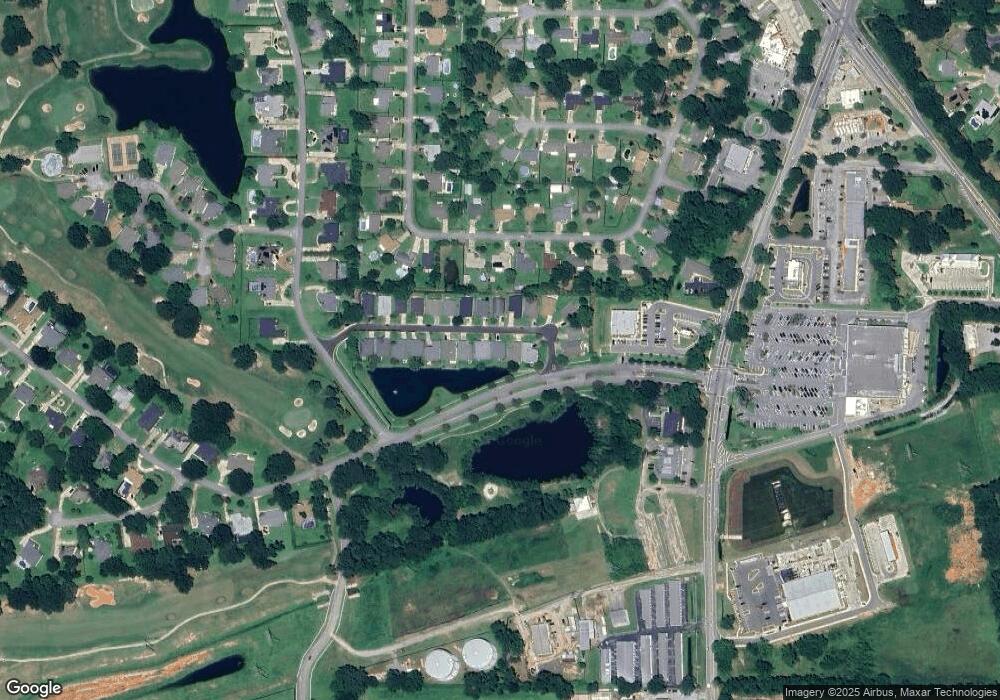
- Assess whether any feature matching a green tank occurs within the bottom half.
No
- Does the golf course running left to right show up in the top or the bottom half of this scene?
bottom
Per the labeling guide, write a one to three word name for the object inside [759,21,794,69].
building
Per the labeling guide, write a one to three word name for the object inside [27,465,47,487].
house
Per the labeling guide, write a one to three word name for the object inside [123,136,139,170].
tennis court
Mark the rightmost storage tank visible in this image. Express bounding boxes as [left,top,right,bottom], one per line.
[462,638,499,672]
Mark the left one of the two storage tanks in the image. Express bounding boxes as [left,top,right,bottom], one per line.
[423,650,458,682]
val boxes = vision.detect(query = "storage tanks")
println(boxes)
[423,650,458,682]
[462,638,499,672]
